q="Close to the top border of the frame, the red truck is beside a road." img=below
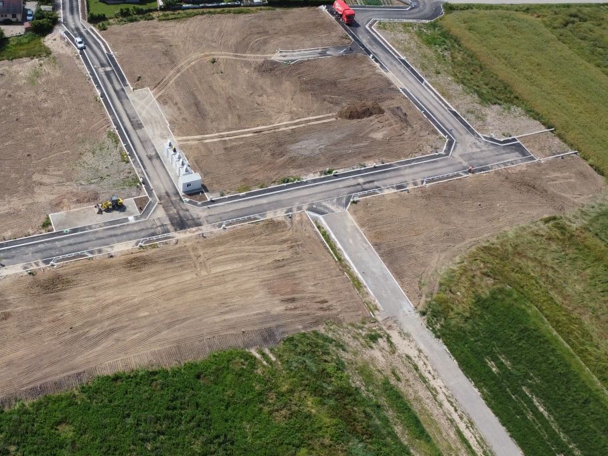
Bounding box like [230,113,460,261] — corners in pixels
[329,0,360,23]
